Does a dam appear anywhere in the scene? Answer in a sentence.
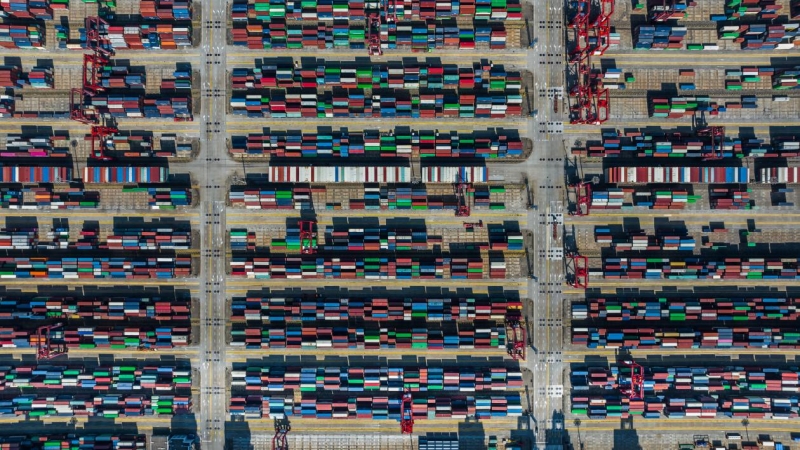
No, there isn't any dam down there.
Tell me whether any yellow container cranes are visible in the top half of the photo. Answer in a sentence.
No, the scene shows no yellow container crane in the top half of the photo.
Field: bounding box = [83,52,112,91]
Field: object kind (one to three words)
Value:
container crane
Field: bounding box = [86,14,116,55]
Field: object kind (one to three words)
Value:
container crane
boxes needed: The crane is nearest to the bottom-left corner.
[37,323,70,361]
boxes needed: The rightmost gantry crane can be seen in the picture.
[693,124,723,160]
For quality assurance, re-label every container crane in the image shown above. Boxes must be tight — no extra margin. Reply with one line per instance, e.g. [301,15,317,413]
[399,392,415,433]
[86,14,116,55]
[502,323,522,361]
[367,14,384,55]
[566,183,590,216]
[693,124,723,160]
[70,86,100,124]
[383,0,398,23]
[567,14,591,55]
[37,323,70,361]
[566,0,590,23]
[585,86,609,124]
[617,359,644,398]
[299,220,319,255]
[453,183,471,216]
[565,255,588,289]
[568,86,591,124]
[588,14,611,55]
[567,52,591,91]
[91,124,120,160]
[648,0,676,23]
[83,52,112,91]
[271,428,291,450]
